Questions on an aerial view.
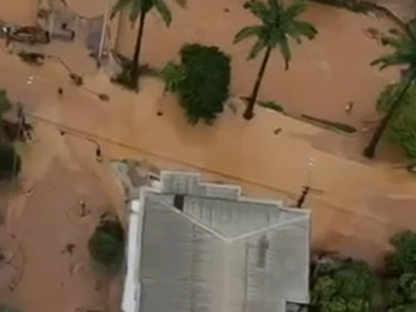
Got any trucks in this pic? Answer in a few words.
No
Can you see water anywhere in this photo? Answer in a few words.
Yes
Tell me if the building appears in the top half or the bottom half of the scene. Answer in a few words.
bottom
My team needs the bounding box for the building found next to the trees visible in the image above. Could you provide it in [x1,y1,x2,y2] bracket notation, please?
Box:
[123,169,314,312]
